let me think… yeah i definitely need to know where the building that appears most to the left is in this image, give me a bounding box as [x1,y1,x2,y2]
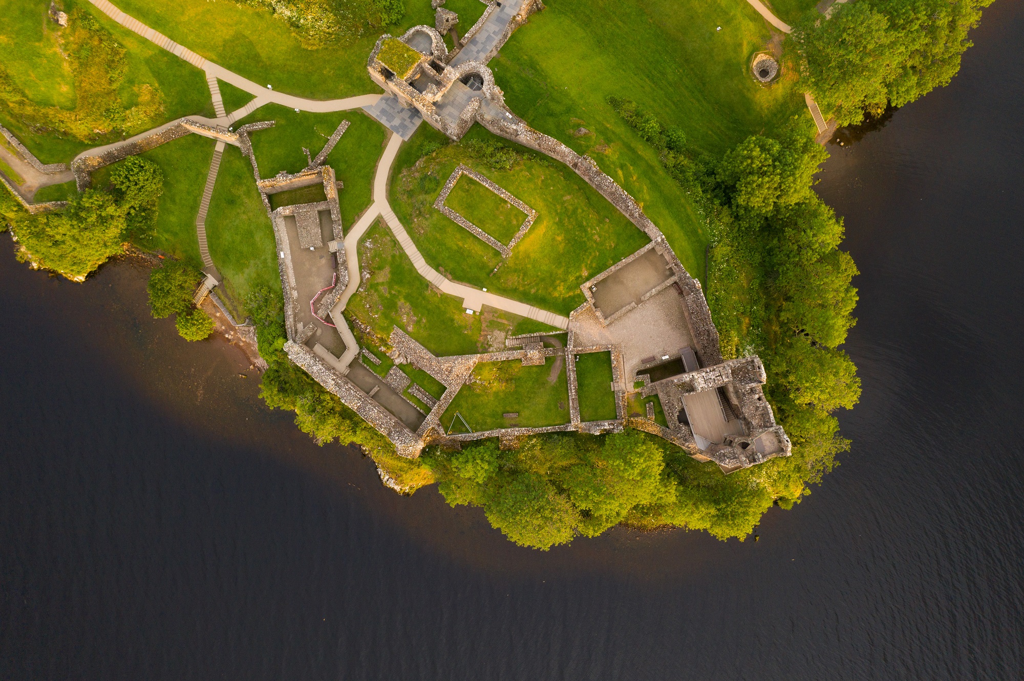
[256,165,351,344]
